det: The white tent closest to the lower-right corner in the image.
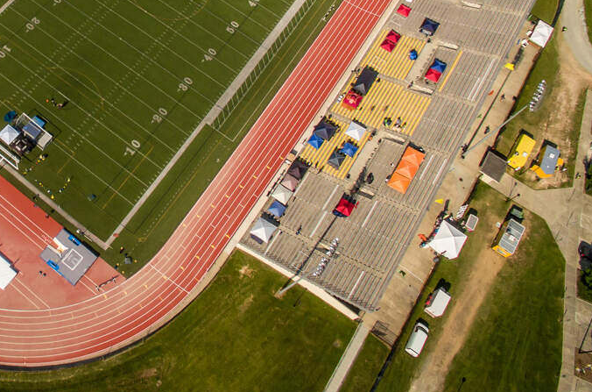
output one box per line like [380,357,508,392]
[424,218,471,263]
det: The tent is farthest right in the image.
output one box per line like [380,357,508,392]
[522,23,554,48]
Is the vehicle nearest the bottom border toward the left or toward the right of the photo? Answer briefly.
right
